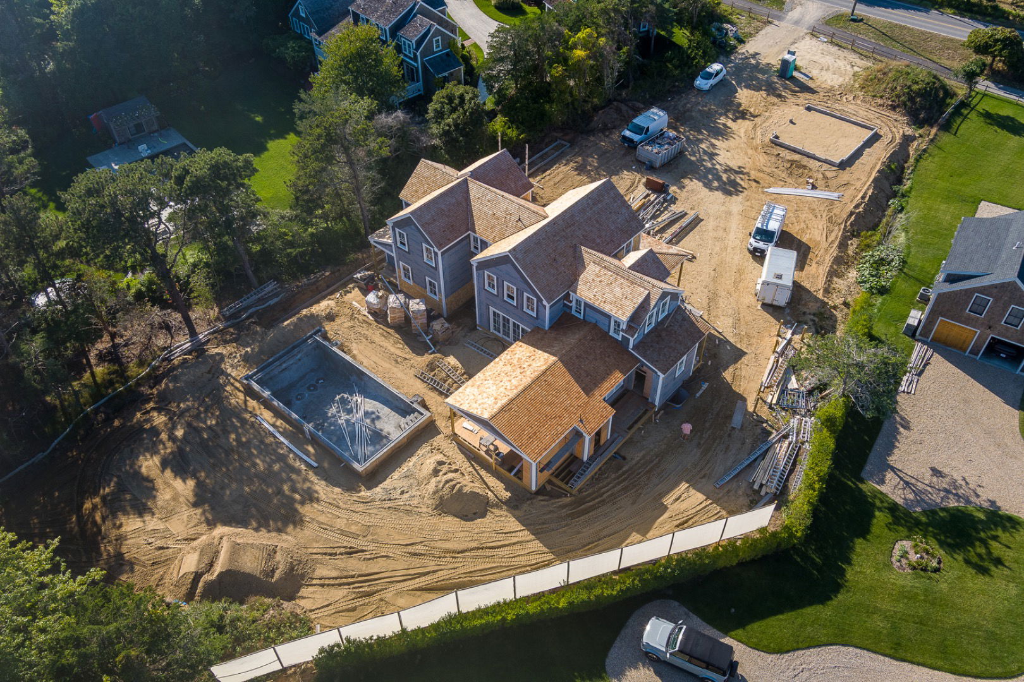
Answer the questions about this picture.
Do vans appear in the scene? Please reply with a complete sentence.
Yes, a van can be made out from above.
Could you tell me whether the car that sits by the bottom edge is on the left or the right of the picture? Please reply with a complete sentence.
The car that sits by the bottom edge sits on the right side.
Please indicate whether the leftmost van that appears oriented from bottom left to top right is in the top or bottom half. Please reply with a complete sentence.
The top half of the photo is where the leftmost van that appears oriented from bottom left to top right is.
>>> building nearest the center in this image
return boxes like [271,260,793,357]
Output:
[369,150,720,492]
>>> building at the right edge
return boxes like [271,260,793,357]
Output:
[916,215,1024,376]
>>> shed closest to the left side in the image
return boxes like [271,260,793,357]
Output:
[98,95,160,143]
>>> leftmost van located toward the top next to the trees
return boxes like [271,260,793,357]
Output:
[621,96,674,144]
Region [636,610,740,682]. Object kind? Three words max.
car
